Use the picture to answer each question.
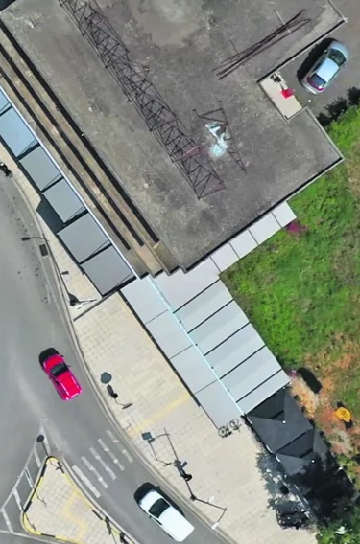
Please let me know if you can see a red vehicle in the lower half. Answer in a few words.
Yes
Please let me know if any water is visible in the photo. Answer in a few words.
No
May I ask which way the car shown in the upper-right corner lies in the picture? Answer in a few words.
diagonally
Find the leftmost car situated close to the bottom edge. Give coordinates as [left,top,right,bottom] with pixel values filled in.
[139,490,193,543]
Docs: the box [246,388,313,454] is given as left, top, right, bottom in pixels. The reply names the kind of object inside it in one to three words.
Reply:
umbrella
